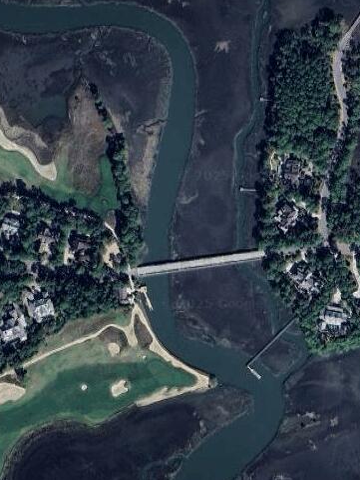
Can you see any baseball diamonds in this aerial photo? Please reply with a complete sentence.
No, the scene contains no baseball diamond.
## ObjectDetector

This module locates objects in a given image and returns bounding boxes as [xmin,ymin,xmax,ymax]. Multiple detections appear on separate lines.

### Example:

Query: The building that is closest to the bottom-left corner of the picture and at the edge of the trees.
[0,303,30,342]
